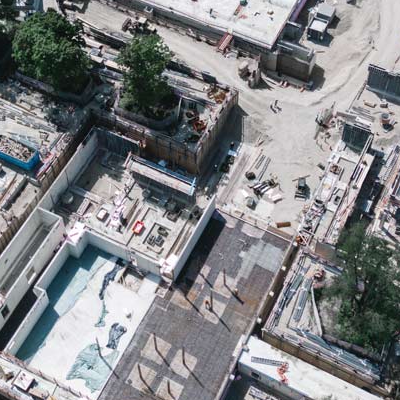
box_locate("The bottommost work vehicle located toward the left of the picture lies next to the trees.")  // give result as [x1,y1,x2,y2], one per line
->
[124,9,161,38]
